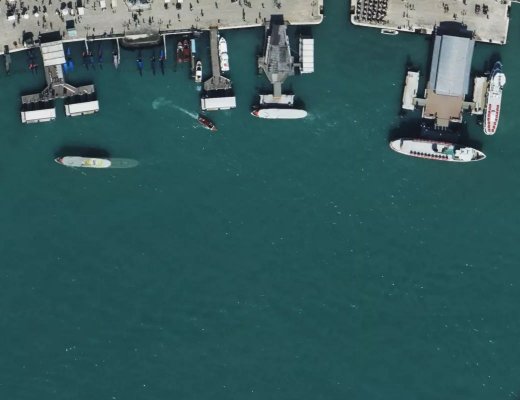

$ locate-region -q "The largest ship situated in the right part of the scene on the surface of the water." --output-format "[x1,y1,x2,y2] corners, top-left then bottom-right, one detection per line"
[388,138,485,162]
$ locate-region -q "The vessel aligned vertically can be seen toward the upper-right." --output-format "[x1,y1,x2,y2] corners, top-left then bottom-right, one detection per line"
[483,61,505,135]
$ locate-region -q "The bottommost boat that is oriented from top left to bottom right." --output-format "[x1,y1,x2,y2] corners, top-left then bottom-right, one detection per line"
[198,117,217,130]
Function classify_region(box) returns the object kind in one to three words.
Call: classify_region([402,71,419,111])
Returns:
pier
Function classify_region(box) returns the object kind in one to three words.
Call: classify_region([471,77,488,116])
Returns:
pier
